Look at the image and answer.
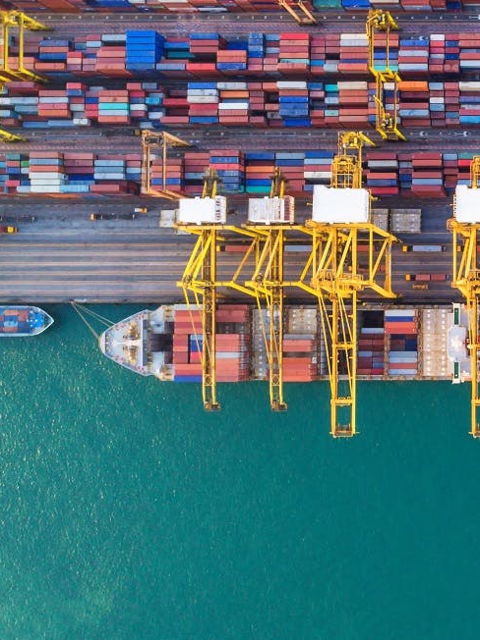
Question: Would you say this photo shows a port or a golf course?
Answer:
port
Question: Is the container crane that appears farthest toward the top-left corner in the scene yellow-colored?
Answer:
Yes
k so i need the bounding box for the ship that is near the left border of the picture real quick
[0,305,58,336]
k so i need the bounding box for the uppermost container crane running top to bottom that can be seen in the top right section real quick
[368,7,404,82]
